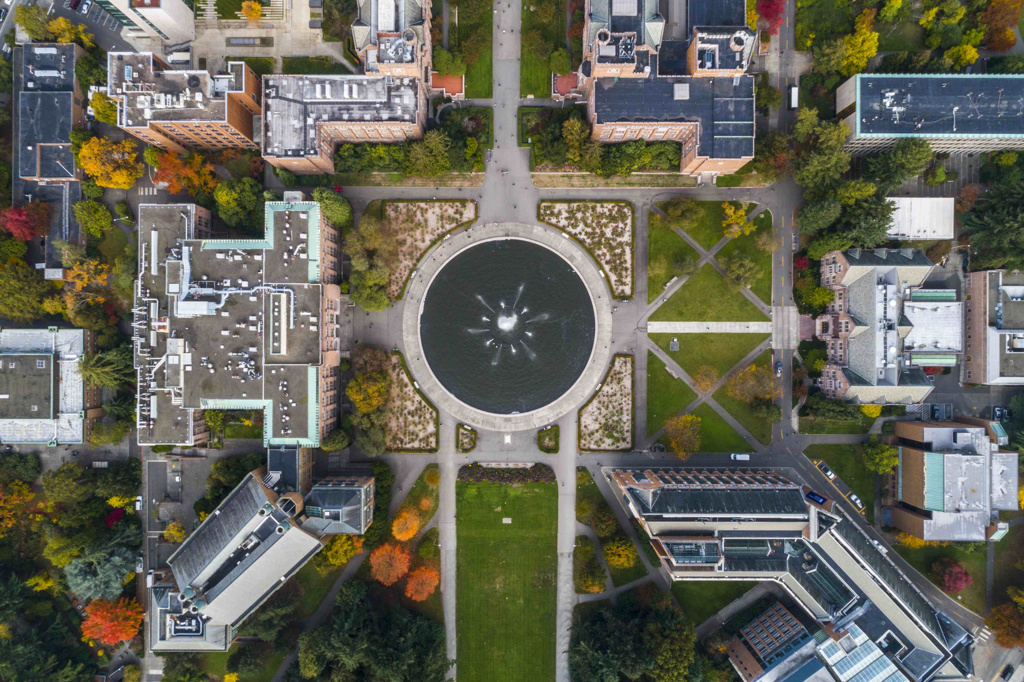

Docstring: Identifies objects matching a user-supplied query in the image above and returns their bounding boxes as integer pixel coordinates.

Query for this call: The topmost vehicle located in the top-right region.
[789,82,803,110]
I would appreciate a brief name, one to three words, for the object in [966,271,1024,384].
building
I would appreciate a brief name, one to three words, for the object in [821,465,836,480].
vehicle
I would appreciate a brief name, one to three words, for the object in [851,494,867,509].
vehicle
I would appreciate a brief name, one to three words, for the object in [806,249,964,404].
building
